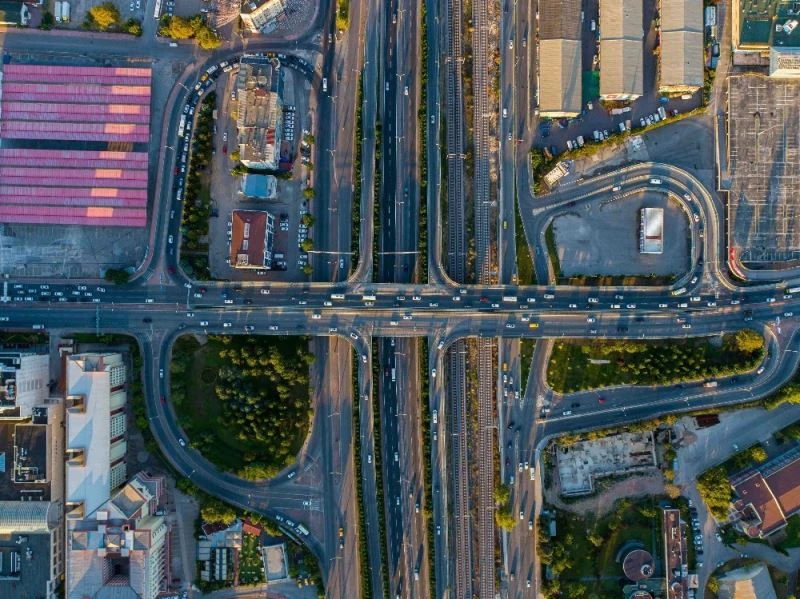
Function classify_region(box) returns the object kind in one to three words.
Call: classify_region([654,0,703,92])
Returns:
building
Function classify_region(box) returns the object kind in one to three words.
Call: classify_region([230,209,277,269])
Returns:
house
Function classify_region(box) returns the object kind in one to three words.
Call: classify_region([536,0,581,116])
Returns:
building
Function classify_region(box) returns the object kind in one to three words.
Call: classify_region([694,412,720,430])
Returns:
shed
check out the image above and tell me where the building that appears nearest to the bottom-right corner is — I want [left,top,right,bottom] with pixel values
[715,560,775,599]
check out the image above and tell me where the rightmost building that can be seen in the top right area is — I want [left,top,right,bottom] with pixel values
[723,0,800,77]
